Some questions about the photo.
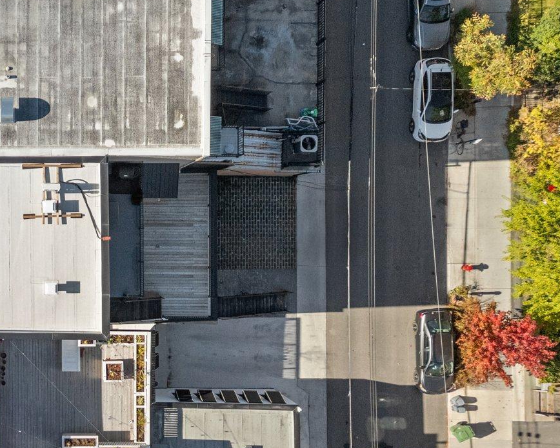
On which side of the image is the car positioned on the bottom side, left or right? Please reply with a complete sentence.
The car positioned on the bottom side appears in the right half of the scene.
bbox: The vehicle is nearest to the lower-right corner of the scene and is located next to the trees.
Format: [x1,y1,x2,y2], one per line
[413,309,458,393]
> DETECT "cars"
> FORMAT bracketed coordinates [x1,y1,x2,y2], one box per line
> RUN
[410,60,457,142]
[413,309,458,393]
[409,0,457,50]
